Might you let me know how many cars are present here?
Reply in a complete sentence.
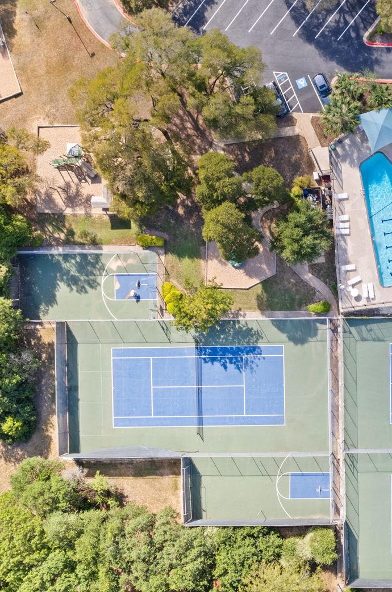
In total, 2 cars can be seen.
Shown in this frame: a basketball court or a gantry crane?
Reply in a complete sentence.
This aerial view contains a basketball court.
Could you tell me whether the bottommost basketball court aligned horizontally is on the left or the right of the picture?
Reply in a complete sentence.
The bottommost basketball court aligned horizontally appears in the right half of the scene.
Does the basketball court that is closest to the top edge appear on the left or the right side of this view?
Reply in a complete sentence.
The basketball court that is closest to the top edge sits on the left side.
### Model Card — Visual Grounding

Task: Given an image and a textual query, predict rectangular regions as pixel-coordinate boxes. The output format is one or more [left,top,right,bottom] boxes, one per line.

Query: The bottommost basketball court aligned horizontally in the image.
[190,453,335,521]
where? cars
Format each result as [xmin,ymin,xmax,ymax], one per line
[266,79,293,117]
[312,73,335,108]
